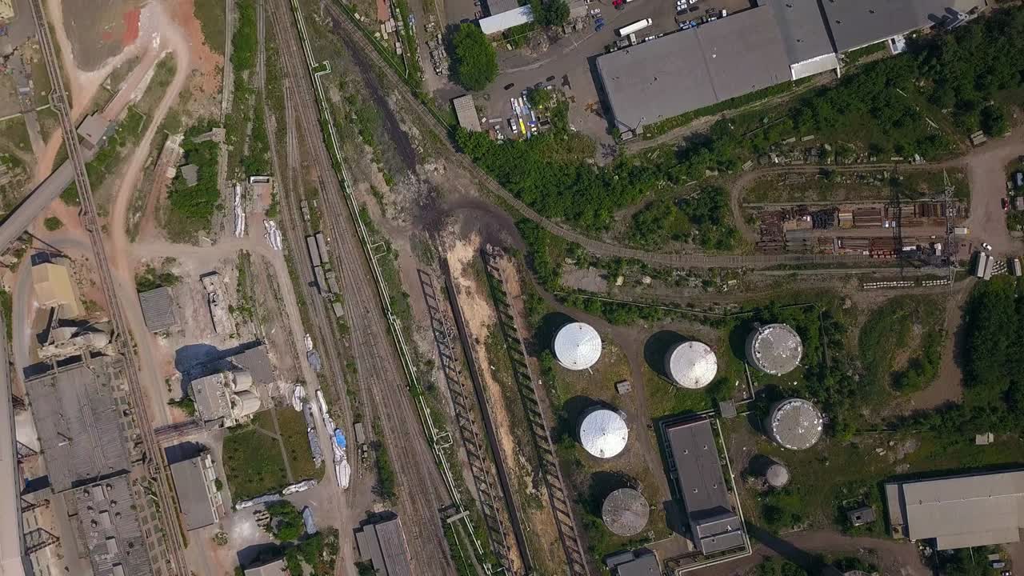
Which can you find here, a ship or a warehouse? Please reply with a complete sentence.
The one in the frame is a warehouse.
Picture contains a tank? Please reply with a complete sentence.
Yes, the frame does contain a tank.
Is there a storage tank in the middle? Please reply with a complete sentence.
Yes, there is a storage tank in the middle.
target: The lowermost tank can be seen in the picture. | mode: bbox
[600,481,650,536]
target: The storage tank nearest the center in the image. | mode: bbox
[553,321,605,374]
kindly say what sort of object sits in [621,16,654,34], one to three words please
vehicle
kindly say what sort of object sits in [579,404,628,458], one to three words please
storage tank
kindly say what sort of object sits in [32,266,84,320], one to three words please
building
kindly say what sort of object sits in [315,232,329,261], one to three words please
rail car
